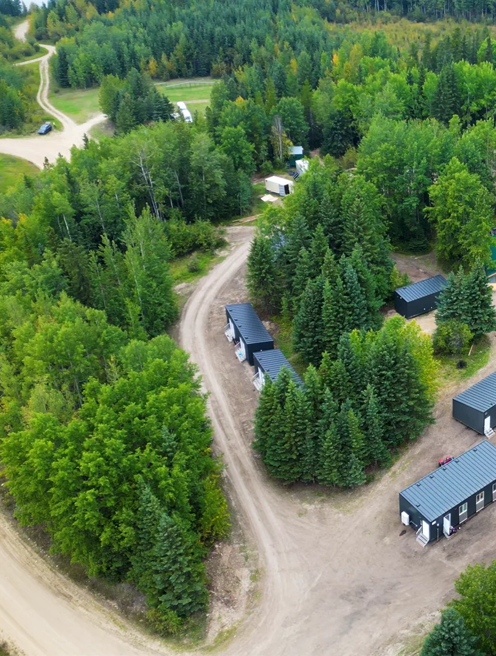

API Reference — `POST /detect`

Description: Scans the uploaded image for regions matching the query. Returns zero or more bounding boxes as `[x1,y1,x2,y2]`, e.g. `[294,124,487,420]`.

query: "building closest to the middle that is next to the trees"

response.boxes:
[220,300,274,363]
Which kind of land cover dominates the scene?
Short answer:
trees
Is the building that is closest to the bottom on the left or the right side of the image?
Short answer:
right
